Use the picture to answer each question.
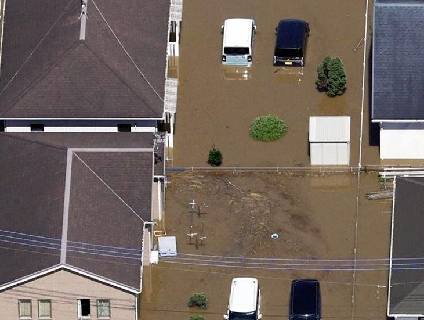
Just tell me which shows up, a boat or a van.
van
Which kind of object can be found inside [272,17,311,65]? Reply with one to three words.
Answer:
van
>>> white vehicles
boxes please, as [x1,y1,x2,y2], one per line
[220,19,258,65]
[222,275,263,320]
